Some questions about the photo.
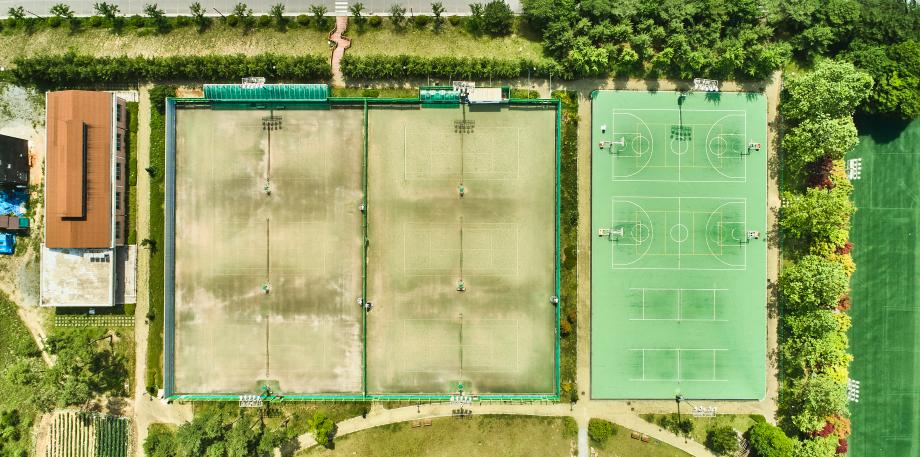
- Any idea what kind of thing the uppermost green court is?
basketball court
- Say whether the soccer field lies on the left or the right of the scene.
right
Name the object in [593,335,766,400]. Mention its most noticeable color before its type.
green sports court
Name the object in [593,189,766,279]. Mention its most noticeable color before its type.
green basketball court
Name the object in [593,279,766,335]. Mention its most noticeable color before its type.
green sports court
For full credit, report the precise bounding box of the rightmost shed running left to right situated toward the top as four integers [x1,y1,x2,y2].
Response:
[468,88,501,101]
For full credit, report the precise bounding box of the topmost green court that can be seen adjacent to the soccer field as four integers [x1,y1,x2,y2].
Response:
[593,92,766,189]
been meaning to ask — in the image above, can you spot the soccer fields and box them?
[848,96,920,457]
